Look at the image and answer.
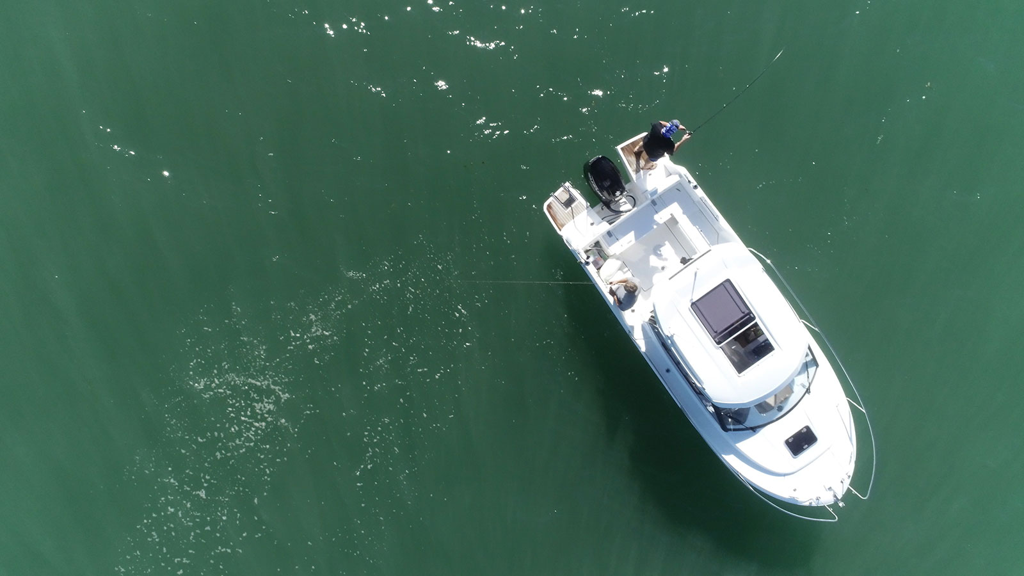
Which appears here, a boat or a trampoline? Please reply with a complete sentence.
It is a boat that can be seen here.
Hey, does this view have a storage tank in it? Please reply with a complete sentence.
No, no storage tank can be seen from above.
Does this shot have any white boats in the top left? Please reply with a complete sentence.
No, the scene shows no white boat in the top left.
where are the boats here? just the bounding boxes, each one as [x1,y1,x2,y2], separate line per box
[546,134,881,519]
